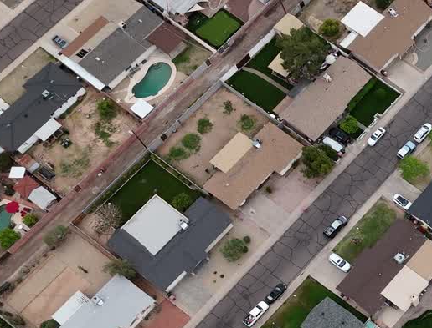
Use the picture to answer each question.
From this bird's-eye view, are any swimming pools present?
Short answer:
Yes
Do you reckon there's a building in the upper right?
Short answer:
Yes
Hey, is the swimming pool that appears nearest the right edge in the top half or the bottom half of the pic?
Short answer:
top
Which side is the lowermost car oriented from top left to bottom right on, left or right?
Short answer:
right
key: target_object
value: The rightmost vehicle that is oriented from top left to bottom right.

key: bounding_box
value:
[392,192,411,211]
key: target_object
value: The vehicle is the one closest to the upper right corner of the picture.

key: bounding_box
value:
[413,123,431,142]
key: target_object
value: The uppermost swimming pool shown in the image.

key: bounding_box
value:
[128,57,176,100]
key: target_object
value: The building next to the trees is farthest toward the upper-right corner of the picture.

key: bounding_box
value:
[340,0,432,73]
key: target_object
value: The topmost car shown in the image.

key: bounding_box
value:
[50,36,68,49]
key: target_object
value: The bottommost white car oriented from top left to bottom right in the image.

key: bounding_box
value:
[329,253,350,273]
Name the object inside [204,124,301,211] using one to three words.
house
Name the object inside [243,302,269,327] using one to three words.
truck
